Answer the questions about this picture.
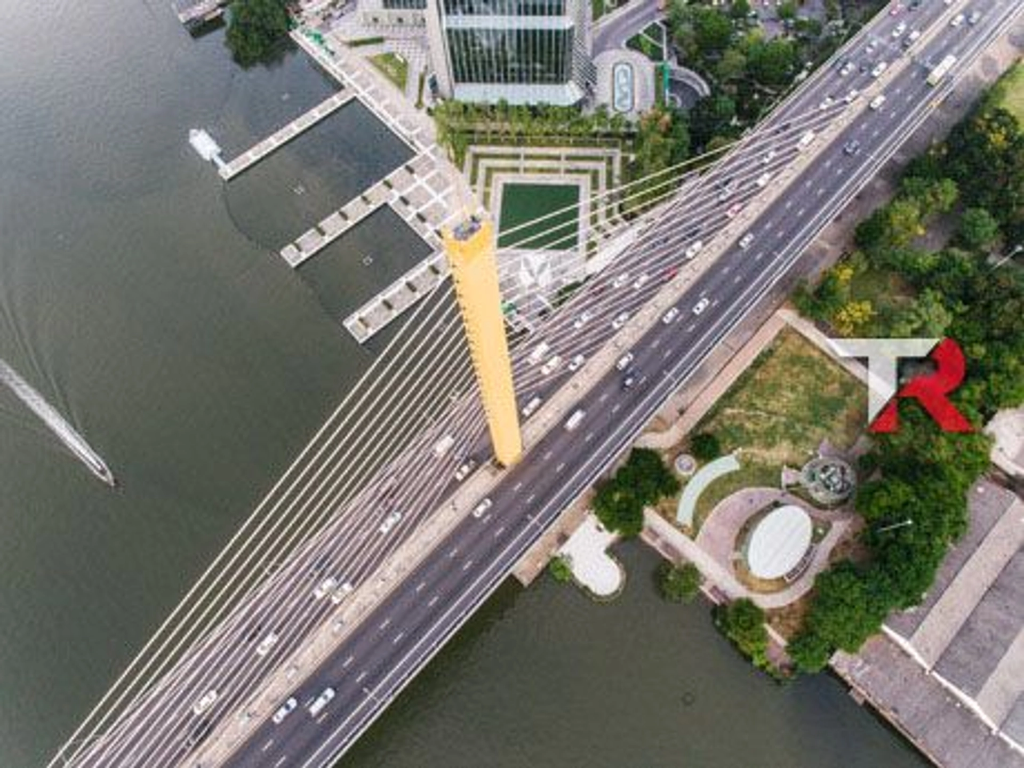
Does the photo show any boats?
Yes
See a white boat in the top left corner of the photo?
Yes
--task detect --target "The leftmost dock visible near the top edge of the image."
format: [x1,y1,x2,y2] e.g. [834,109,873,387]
[176,0,232,29]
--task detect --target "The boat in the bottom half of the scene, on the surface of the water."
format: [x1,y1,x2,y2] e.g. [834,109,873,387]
[89,455,115,486]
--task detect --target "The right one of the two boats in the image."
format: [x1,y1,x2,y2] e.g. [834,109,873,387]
[188,128,228,168]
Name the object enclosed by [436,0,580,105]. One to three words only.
building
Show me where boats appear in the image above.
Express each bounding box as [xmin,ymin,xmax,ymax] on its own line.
[89,455,115,486]
[188,128,228,168]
